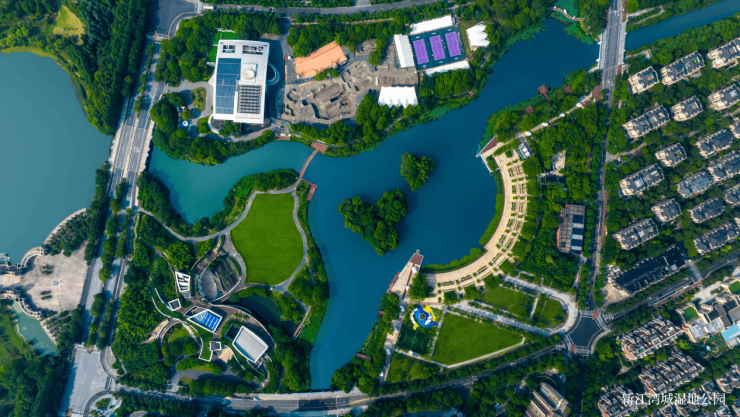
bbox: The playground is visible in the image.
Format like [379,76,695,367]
[410,305,439,330]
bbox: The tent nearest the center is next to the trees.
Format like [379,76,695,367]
[379,87,418,109]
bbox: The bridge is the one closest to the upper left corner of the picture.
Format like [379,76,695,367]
[110,109,156,168]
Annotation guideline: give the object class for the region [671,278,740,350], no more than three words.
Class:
building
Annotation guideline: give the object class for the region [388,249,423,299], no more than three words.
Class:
pier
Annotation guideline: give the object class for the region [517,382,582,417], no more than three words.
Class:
building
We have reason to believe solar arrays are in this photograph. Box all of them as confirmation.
[215,59,241,113]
